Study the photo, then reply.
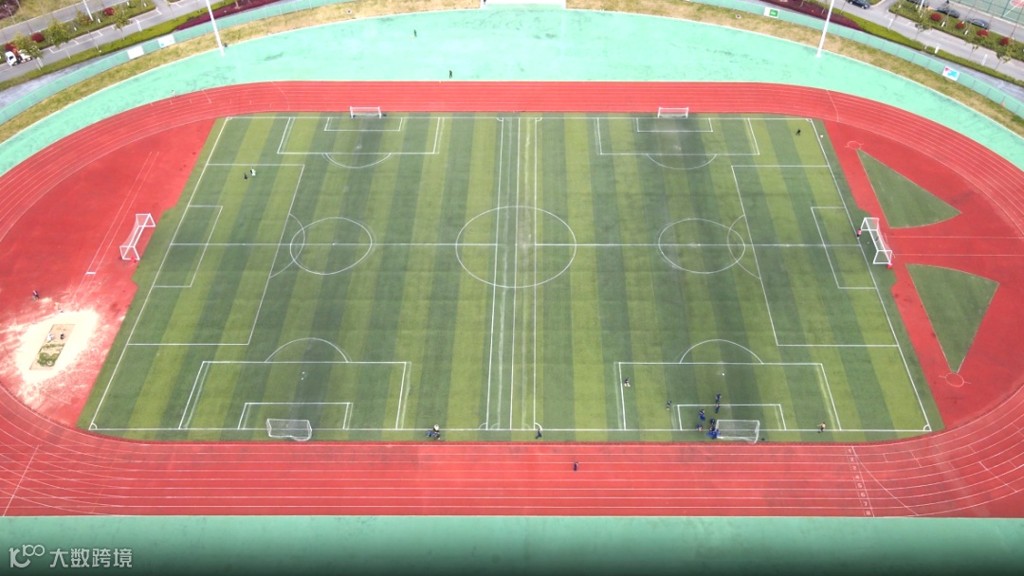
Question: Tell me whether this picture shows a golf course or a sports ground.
sports ground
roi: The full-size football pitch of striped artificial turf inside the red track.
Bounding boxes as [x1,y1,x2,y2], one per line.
[77,112,945,443]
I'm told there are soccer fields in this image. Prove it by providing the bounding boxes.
[77,112,945,443]
[523,118,840,430]
[180,118,512,430]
